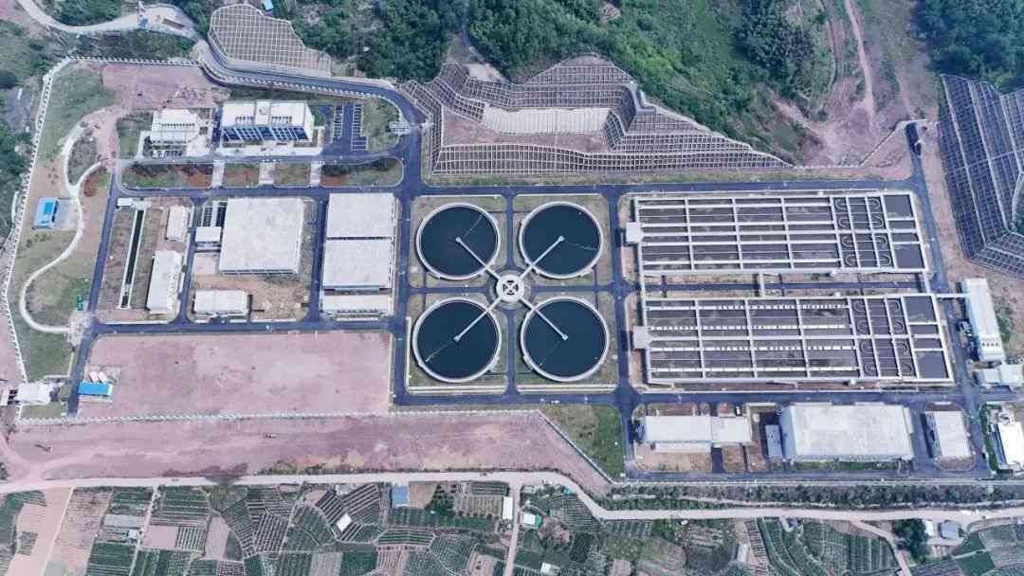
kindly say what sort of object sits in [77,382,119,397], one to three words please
shed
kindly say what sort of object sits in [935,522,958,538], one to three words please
house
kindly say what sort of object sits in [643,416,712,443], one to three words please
building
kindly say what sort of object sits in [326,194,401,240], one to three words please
building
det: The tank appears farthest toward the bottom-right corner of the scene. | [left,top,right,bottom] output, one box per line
[520,297,609,383]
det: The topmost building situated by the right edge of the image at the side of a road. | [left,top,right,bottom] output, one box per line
[956,279,1007,363]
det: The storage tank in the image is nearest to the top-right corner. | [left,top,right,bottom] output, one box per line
[519,201,603,280]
